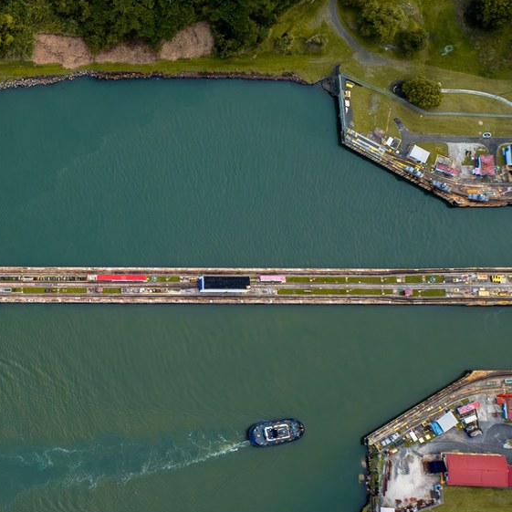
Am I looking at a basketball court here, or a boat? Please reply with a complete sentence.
The image shows a boat.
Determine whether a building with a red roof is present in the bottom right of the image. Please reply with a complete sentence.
Yes, in the bottom right of the image there is a building with a red roof.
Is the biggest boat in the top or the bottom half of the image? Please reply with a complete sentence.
The biggest boat sits in the bottom half of the picture.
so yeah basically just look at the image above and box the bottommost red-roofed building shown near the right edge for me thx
[439,453,512,487]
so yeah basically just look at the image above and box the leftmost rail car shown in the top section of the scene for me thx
[404,165,425,178]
